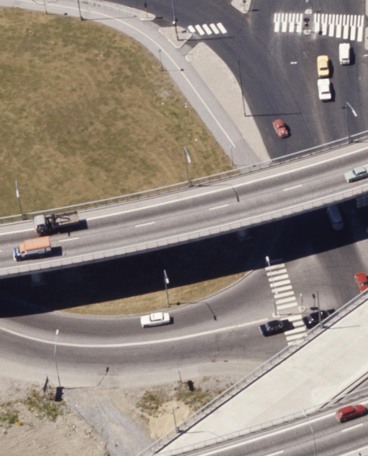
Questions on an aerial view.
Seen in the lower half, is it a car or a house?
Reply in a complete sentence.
What appears in the lower half is a car.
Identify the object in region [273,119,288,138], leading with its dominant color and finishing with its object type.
red car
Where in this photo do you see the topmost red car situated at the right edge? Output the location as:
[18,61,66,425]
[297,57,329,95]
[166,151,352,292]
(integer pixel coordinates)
[355,270,368,293]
